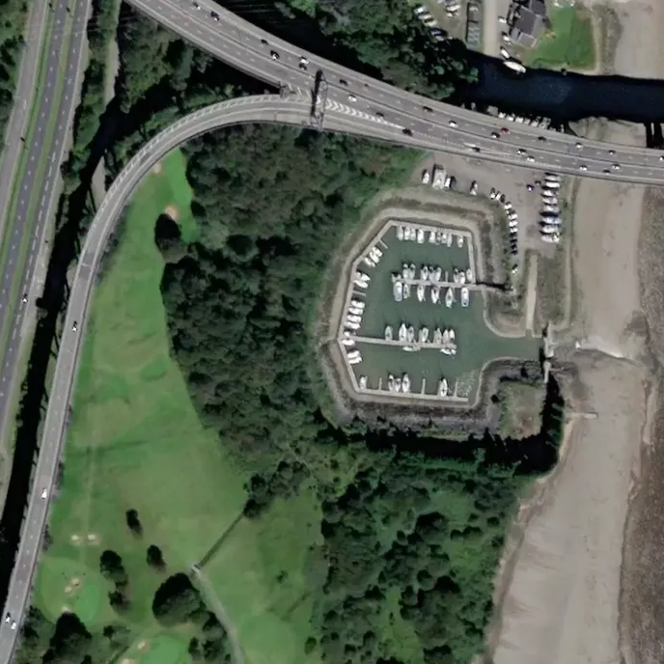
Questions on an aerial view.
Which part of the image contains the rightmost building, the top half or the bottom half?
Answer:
top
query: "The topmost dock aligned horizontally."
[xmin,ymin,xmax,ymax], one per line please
[391,222,471,247]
